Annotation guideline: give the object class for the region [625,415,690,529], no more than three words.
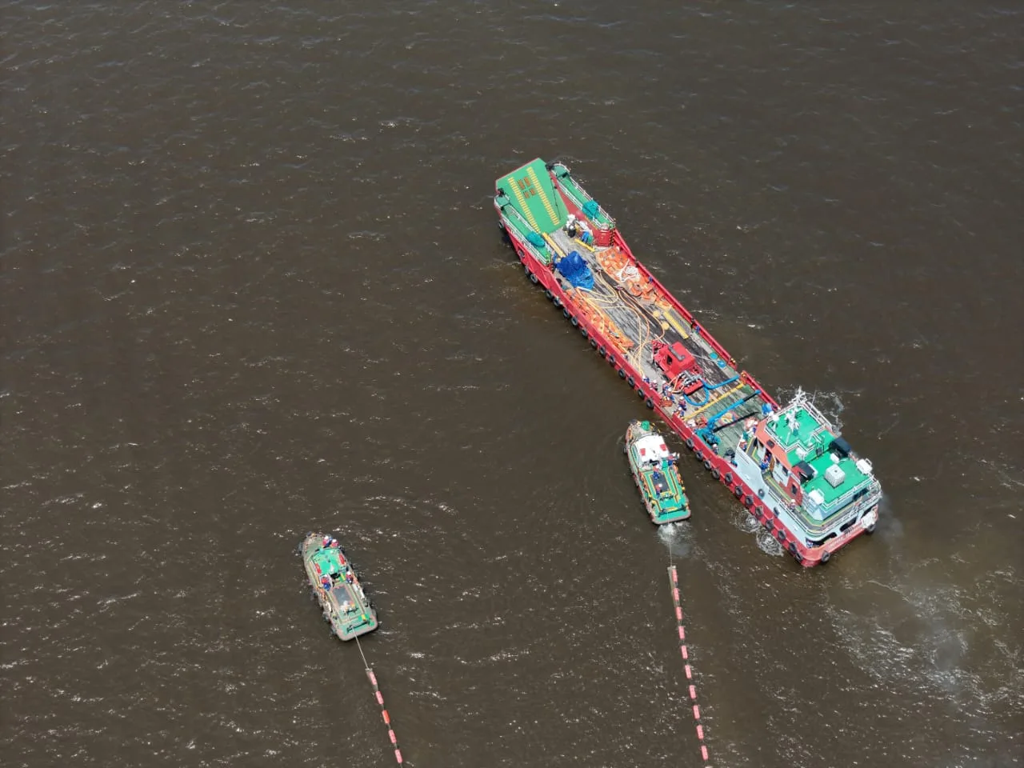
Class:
boat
